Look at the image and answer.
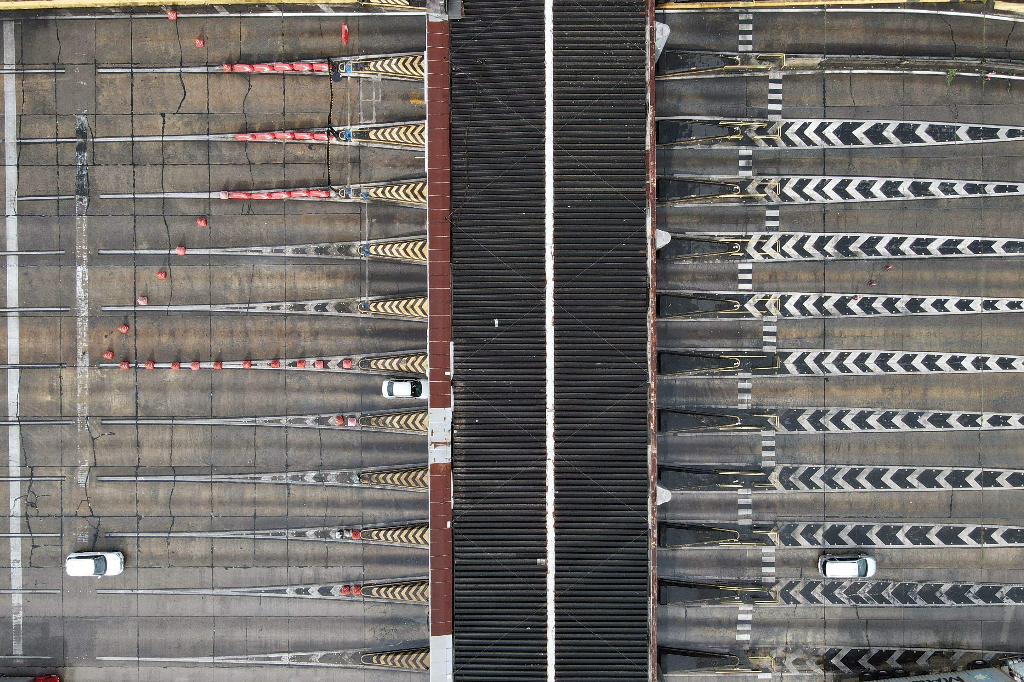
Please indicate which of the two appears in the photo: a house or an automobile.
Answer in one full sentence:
The one in the frame is an automobile.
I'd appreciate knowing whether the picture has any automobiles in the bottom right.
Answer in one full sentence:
Yes, you'll find an automobile in the bottom right.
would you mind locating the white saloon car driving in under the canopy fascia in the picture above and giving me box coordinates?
[382,375,428,403]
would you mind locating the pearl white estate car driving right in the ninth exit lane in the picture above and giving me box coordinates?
[818,552,877,582]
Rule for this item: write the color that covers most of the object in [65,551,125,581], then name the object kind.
white car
